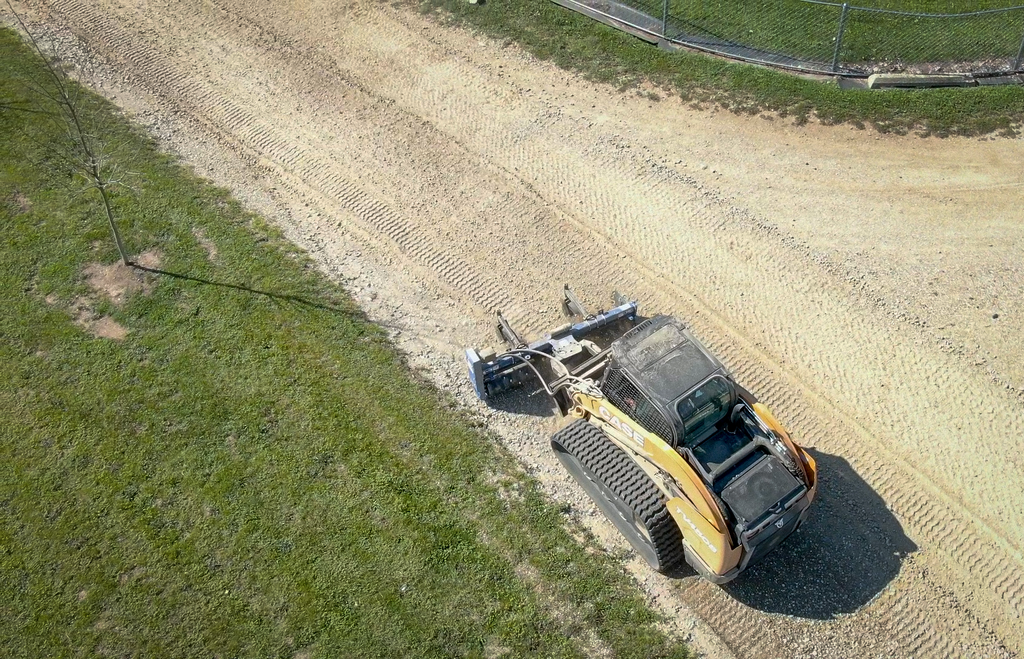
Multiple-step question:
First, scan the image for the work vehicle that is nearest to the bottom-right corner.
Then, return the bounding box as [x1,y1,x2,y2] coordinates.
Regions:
[552,318,820,586]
